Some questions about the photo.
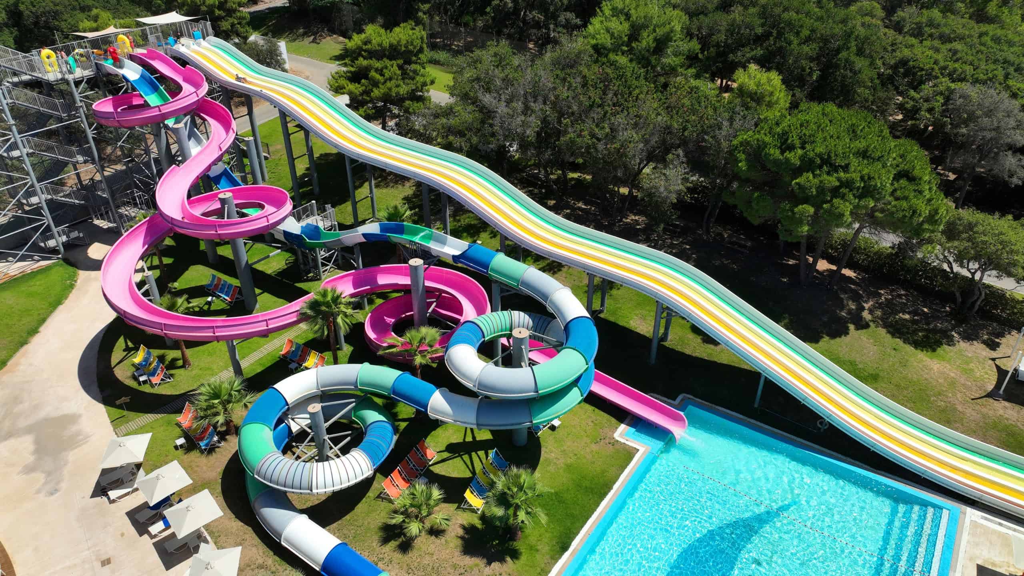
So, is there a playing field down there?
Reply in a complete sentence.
No, no playing field can be seen from above.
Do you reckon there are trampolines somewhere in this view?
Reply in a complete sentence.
No, this view has no trampoline in it.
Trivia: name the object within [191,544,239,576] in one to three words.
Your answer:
umbrella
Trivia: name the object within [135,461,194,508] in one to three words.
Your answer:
umbrella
